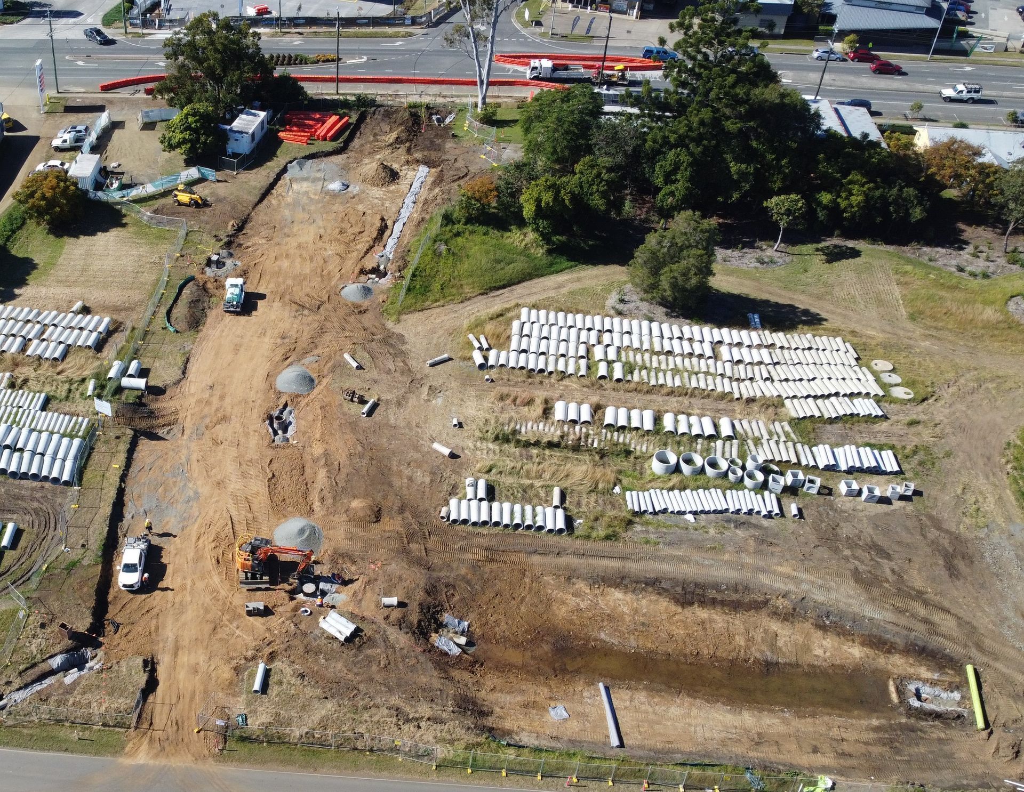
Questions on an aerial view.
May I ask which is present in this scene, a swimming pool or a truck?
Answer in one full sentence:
The one in the frame is a truck.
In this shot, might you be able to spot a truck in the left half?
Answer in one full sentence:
Yes, a truck shows up in the left half.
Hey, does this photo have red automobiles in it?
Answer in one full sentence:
Yes, a red automobile appears in the view.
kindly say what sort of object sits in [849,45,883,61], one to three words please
car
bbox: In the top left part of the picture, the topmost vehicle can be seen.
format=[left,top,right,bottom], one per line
[83,30,109,44]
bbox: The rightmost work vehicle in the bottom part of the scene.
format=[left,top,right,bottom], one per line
[237,540,314,597]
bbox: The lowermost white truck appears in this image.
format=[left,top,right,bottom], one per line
[113,521,149,585]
